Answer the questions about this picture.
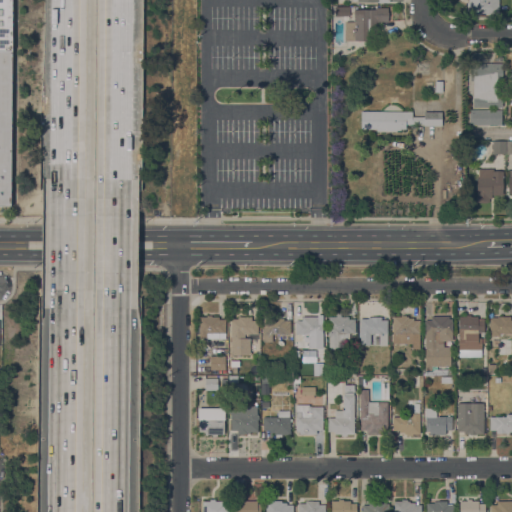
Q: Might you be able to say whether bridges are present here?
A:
Yes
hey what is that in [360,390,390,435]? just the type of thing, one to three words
house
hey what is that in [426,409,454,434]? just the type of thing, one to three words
house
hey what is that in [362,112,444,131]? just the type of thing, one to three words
building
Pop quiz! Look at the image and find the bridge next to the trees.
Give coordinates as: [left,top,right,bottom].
[44,180,140,318]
